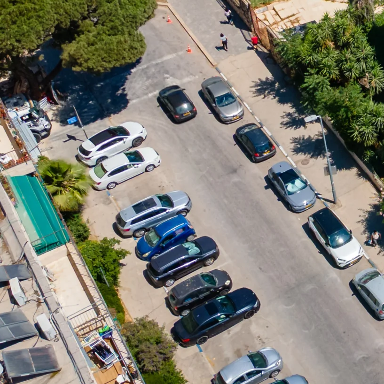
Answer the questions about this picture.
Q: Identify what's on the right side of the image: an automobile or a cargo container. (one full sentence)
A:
It is an automobile that can be seen on the right side of the image.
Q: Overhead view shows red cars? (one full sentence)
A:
No, there appears to be no red car in this shot.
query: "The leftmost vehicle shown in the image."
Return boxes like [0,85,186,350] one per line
[8,93,54,141]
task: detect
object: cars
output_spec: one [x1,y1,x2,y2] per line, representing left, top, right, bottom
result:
[130,209,198,256]
[254,366,315,384]
[8,93,54,141]
[304,207,363,269]
[85,142,162,191]
[203,344,285,384]
[161,267,233,317]
[66,119,147,167]
[106,186,194,241]
[154,83,196,126]
[166,285,260,350]
[136,233,223,290]
[233,122,276,164]
[346,265,384,325]
[263,157,318,214]
[196,75,245,123]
